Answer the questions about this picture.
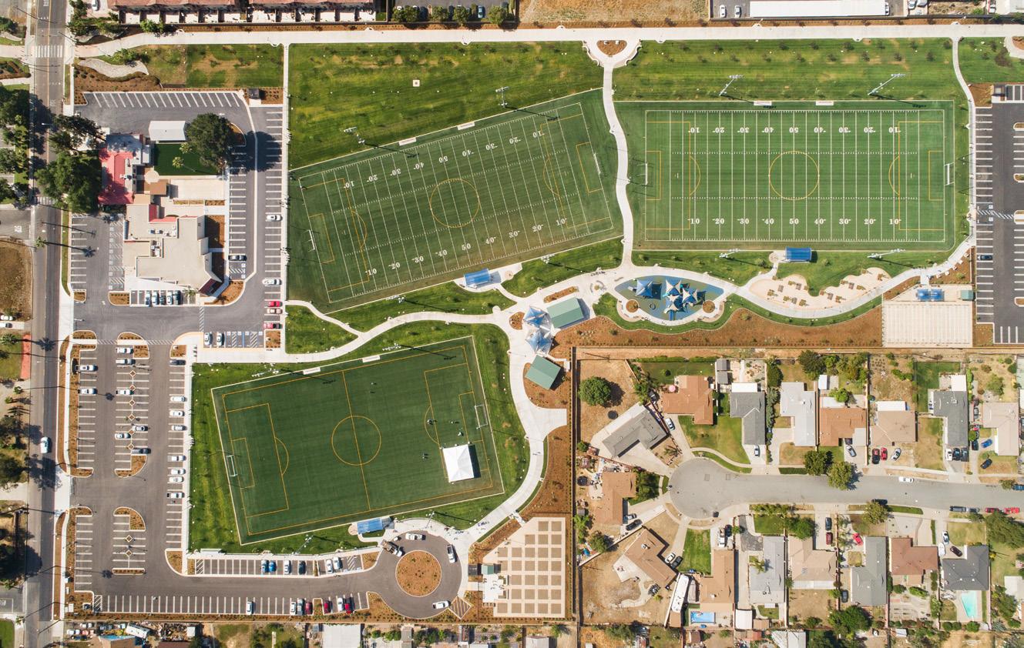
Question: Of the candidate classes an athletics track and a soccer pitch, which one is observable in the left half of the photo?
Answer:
soccer pitch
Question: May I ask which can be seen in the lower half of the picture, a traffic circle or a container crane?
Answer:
traffic circle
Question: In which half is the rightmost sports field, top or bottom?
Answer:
top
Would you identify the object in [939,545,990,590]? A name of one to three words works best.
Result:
house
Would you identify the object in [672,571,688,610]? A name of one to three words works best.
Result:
camper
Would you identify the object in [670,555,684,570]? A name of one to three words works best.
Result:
vehicle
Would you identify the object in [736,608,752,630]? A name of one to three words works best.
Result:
shed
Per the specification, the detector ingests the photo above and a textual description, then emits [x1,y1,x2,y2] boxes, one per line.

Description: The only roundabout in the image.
[377,531,460,618]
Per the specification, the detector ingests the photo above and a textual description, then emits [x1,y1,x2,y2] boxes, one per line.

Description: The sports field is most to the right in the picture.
[613,99,956,251]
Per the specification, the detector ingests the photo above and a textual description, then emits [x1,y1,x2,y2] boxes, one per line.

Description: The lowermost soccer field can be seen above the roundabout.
[210,335,504,546]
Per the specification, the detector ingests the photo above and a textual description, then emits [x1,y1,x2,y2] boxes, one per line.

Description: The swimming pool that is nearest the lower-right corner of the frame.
[962,591,979,619]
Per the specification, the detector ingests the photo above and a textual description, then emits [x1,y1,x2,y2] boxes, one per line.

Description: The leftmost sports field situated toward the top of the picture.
[288,86,624,313]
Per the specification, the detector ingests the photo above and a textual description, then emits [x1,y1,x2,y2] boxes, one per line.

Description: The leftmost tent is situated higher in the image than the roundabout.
[443,444,474,482]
